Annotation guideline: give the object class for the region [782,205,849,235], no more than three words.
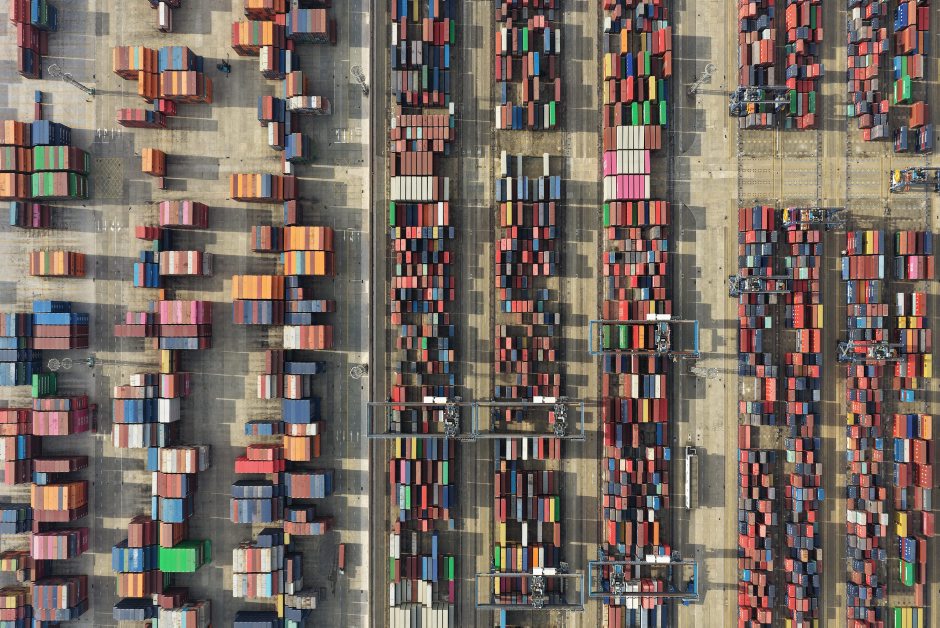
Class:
crane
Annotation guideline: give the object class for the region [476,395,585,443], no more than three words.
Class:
container crane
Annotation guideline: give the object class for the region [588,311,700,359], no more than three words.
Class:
container crane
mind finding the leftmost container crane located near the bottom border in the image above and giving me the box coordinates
[476,556,585,614]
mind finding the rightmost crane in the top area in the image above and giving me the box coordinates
[890,165,940,197]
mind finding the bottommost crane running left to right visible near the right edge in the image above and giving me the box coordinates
[837,338,908,364]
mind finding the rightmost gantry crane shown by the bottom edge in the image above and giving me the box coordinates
[588,545,699,602]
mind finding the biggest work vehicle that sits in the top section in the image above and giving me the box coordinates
[214,54,229,77]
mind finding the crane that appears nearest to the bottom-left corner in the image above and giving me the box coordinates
[367,395,476,443]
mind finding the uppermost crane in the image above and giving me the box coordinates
[730,83,794,121]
